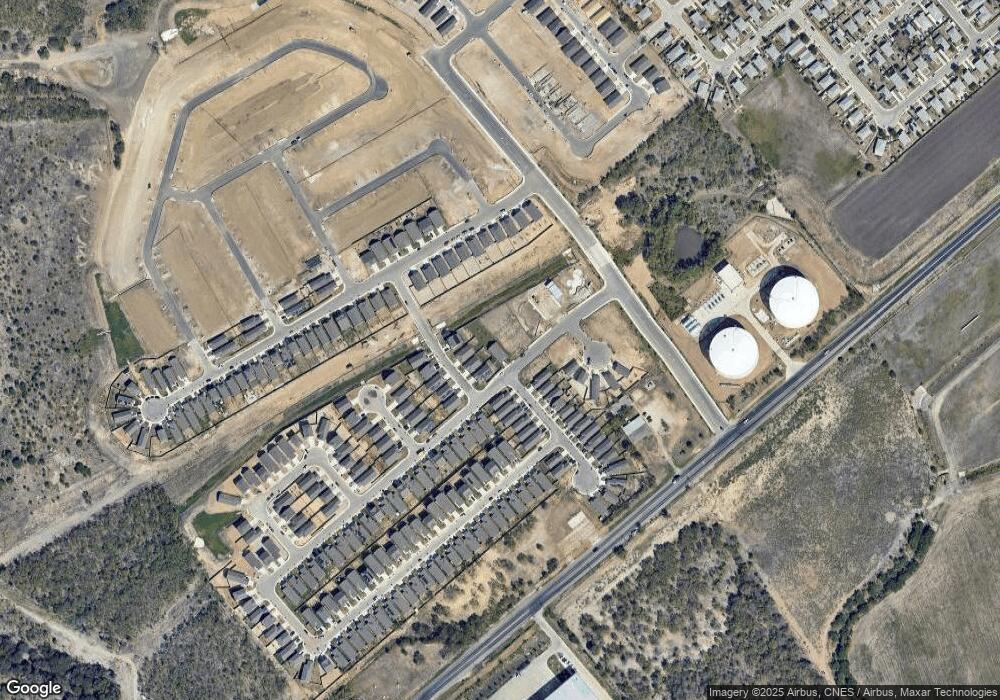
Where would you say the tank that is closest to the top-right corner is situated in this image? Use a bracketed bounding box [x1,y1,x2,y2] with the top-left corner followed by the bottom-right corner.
[770,273,820,324]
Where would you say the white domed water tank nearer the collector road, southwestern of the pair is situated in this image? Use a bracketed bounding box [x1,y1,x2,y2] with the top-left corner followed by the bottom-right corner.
[709,328,760,378]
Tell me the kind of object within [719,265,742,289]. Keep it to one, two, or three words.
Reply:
building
